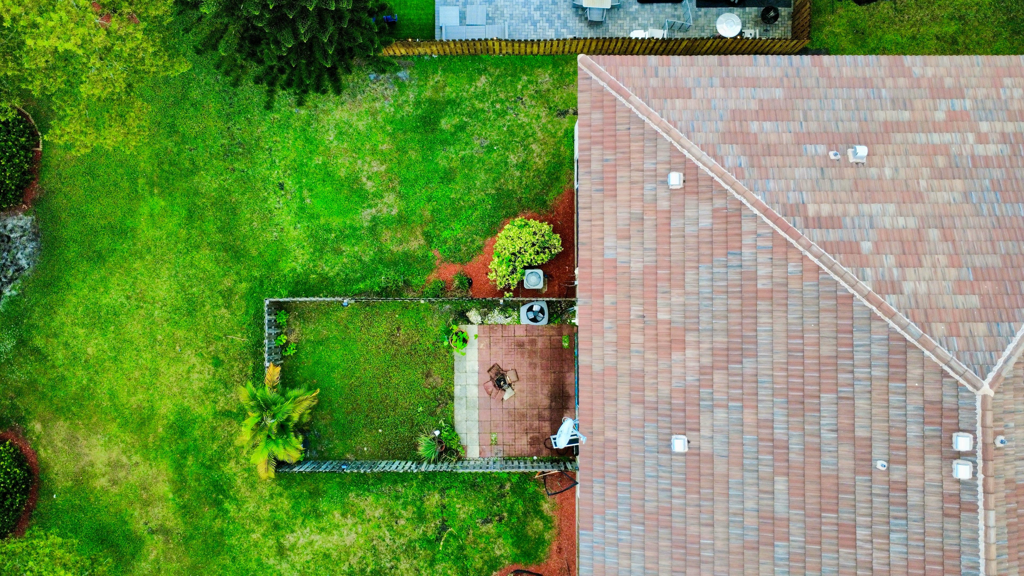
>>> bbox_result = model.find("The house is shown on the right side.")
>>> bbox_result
[557,52,1024,576]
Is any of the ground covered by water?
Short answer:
No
